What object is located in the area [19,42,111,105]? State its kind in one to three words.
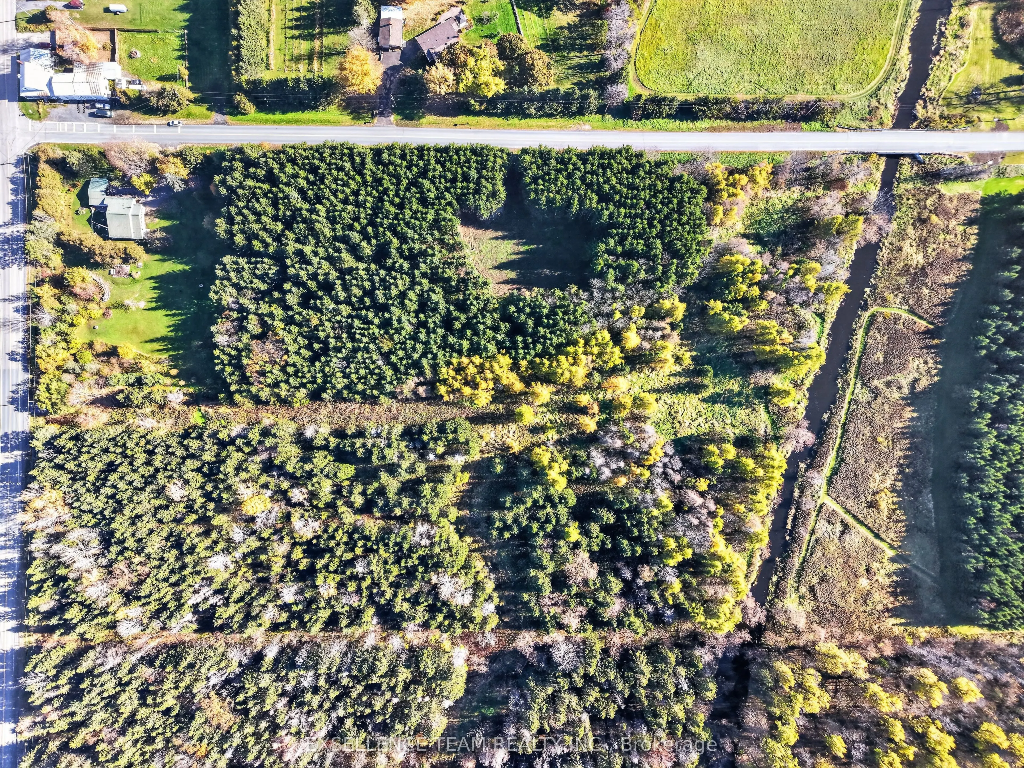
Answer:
house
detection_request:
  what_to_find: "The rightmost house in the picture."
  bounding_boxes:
[415,14,462,66]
